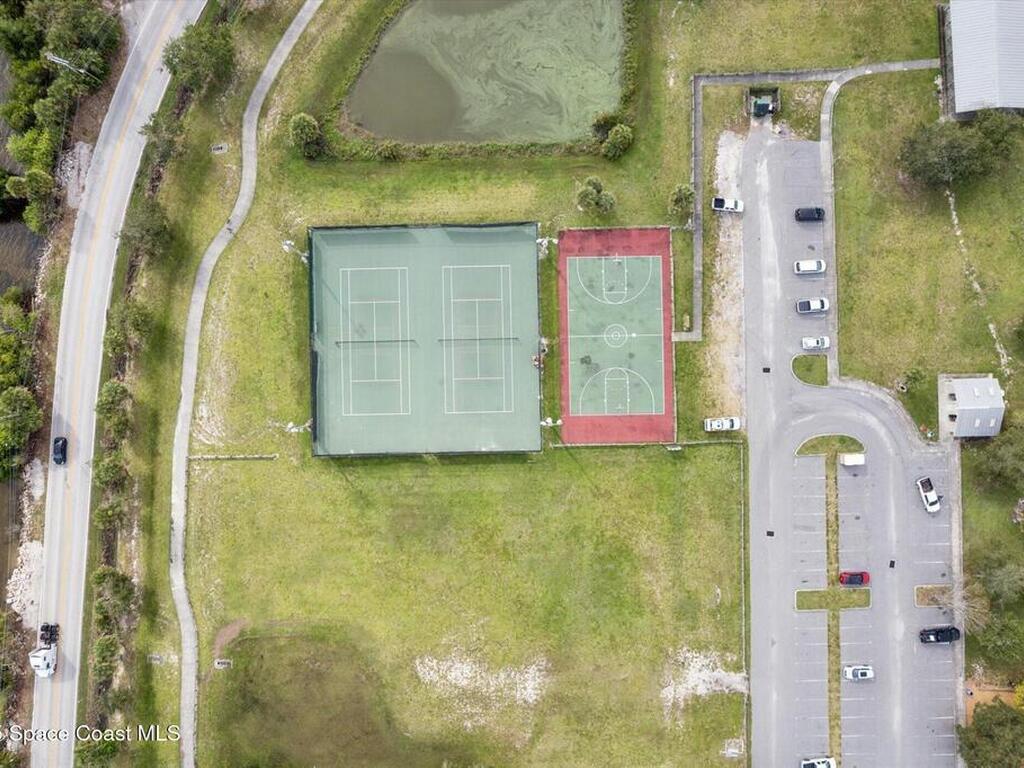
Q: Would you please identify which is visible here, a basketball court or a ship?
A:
basketball court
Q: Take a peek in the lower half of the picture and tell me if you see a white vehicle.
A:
Yes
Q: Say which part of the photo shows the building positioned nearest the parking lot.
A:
right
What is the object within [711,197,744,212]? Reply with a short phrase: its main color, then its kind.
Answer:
white vehicle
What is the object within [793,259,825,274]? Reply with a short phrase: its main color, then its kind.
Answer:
white car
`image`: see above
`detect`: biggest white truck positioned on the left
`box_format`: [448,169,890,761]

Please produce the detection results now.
[30,624,61,677]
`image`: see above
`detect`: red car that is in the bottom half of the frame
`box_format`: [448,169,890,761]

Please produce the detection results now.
[839,572,869,586]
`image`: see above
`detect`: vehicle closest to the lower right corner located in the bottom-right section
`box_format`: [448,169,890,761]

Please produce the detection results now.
[919,627,957,644]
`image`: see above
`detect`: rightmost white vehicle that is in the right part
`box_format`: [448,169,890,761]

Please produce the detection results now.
[916,477,944,513]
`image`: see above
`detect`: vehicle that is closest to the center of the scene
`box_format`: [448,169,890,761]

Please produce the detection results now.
[704,417,740,432]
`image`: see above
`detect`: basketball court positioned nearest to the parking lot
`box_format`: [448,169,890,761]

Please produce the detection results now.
[558,228,675,445]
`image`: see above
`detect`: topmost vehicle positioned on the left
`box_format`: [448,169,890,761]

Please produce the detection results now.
[52,436,69,464]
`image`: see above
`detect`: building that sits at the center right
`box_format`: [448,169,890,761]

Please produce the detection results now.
[947,378,1004,436]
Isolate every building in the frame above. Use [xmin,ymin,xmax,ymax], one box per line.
[947,378,1004,436]
[938,0,1024,118]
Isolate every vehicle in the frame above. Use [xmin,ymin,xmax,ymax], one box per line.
[839,572,869,586]
[801,336,830,350]
[916,477,944,513]
[800,757,835,768]
[704,417,740,432]
[30,624,61,677]
[793,259,825,274]
[843,665,873,680]
[52,436,69,464]
[711,197,744,212]
[795,297,829,312]
[794,206,824,221]
[919,627,957,644]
